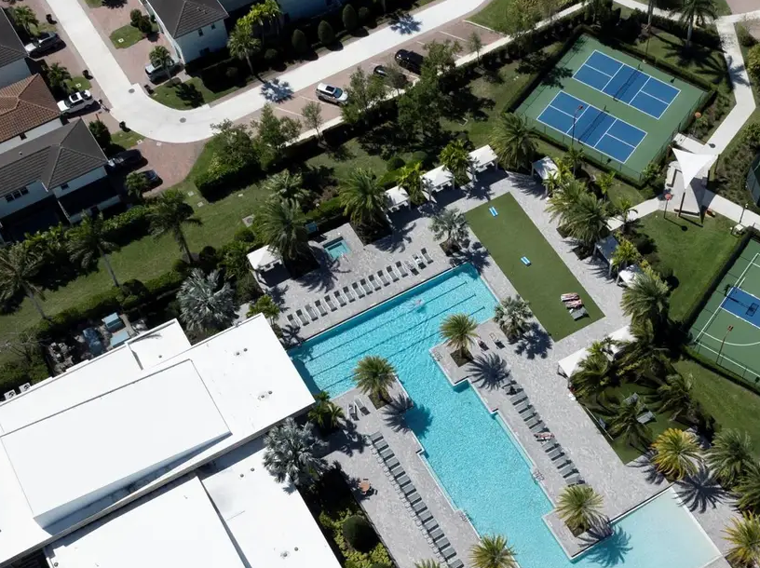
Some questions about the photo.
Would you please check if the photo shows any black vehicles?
Yes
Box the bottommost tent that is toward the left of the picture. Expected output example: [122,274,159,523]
[249,243,285,283]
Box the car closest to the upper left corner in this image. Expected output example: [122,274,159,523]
[26,33,62,57]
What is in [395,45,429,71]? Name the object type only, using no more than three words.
car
